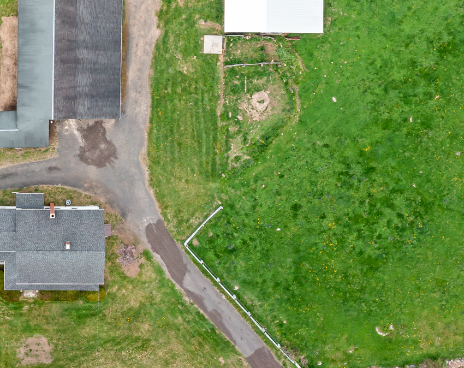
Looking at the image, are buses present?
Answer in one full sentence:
No, this view has no bus in it.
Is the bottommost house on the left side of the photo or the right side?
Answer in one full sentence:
The bottommost house sits on the left side.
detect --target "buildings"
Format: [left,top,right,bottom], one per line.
[219,0,323,33]
[201,36,224,54]
[0,0,123,147]
[0,191,112,300]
